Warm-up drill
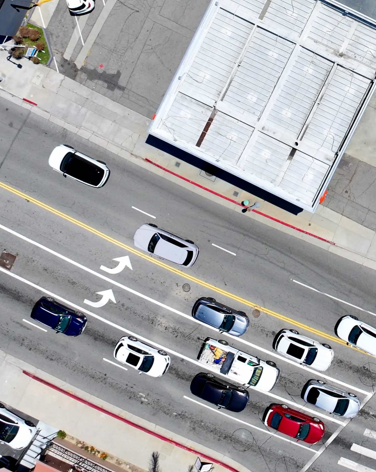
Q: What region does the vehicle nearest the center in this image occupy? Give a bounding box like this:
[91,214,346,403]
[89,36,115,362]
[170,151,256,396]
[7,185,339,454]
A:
[137,223,197,267]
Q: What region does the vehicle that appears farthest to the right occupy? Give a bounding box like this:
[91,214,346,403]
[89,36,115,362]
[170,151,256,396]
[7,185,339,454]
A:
[334,315,376,357]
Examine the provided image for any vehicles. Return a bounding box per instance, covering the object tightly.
[265,402,323,444]
[334,315,376,357]
[190,370,250,412]
[27,296,90,338]
[66,0,96,13]
[137,223,197,267]
[0,406,35,448]
[301,377,360,420]
[273,328,334,371]
[201,338,275,389]
[191,296,250,337]
[50,145,111,188]
[113,336,171,376]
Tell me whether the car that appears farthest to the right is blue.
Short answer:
No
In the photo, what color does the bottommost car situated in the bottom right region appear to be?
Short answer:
red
